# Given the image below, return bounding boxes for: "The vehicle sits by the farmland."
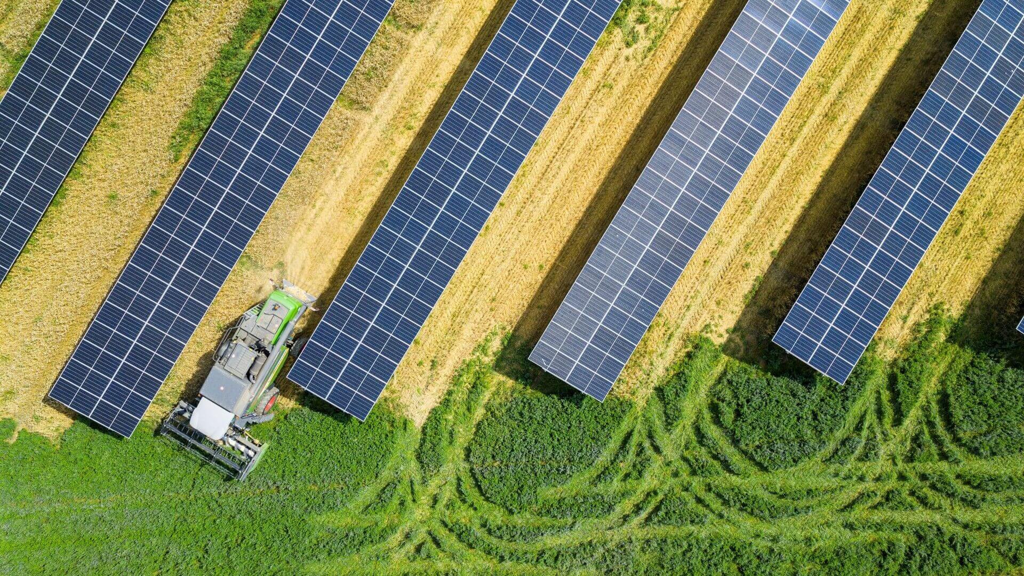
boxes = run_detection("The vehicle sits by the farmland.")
[159,278,322,480]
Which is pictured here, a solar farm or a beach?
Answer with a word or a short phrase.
solar farm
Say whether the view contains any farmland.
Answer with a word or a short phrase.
Yes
